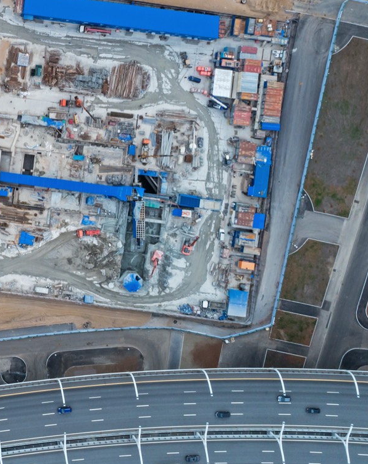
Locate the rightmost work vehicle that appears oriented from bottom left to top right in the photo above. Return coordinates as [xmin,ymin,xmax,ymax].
[179,235,204,258]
